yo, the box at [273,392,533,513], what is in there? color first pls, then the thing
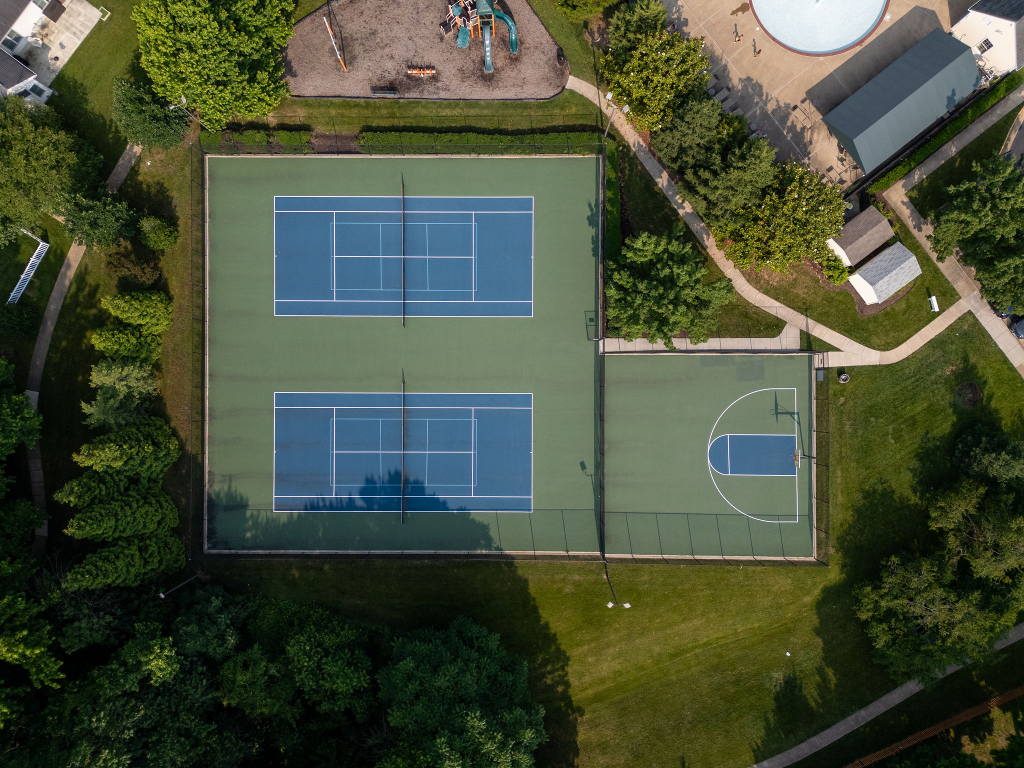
blue tennis court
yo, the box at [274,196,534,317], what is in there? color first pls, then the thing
blue tennis court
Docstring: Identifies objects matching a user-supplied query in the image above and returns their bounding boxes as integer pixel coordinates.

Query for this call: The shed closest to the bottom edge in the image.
[848,242,920,305]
